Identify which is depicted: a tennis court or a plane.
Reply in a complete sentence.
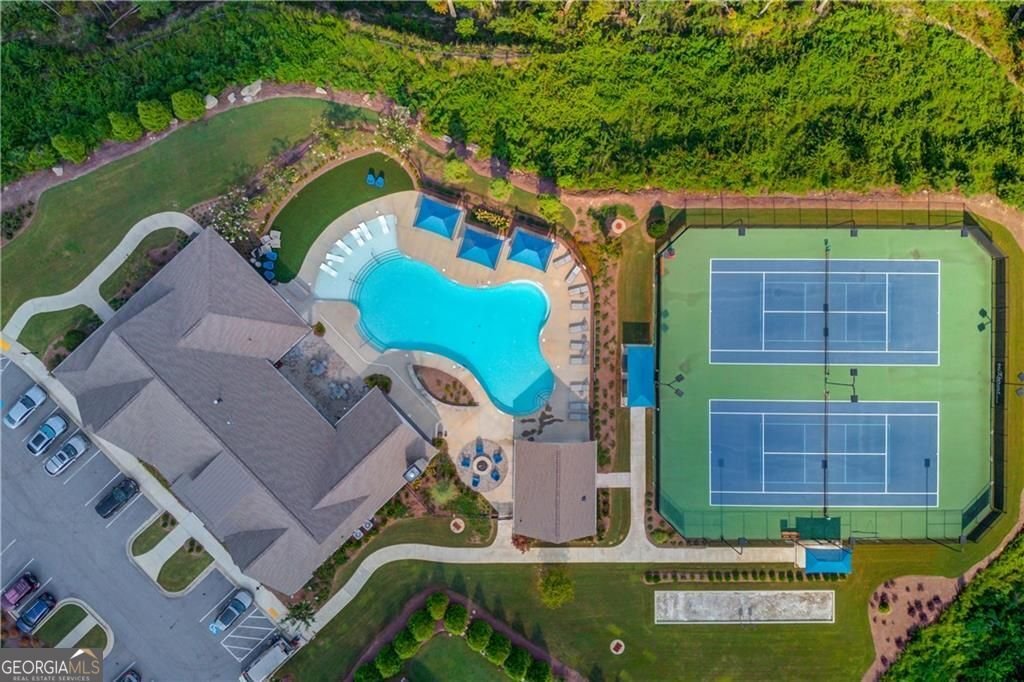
The image shows a tennis court.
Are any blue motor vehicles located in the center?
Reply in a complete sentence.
No, there is no blue motor vehicle in the center.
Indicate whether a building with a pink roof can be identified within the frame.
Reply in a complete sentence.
No, the frame has no building with a pink roof in it.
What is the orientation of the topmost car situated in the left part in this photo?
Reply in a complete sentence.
The topmost car situated in the left part has been laid out on a diagonal relative to the frame.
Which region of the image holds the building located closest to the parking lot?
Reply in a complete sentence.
Look in the left portion of the view to spot the building located closest to the parking lot.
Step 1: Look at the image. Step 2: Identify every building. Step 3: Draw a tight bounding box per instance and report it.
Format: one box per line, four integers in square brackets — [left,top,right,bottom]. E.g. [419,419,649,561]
[513,440,597,544]
[52,227,438,595]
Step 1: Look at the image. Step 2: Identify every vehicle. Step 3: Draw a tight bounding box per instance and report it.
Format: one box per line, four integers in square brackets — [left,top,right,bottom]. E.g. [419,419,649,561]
[4,384,50,427]
[0,567,43,613]
[45,432,90,476]
[96,474,141,519]
[234,631,301,682]
[26,411,71,455]
[16,589,60,635]
[210,588,254,632]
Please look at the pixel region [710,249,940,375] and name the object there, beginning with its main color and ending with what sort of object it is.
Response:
blue tennis court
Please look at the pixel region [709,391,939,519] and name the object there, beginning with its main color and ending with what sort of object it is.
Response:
blue tennis court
